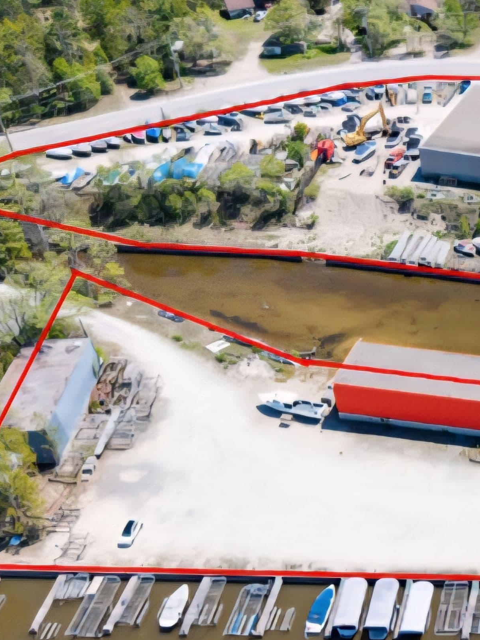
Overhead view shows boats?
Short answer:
Yes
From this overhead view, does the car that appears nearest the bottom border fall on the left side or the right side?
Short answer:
left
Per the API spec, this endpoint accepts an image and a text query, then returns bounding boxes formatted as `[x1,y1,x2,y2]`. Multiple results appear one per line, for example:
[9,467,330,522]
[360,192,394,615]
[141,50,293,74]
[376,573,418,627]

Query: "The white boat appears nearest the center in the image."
[206,340,231,353]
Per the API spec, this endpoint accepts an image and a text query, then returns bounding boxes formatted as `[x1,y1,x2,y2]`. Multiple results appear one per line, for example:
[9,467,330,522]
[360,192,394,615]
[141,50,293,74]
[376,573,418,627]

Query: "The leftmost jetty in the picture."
[29,577,68,634]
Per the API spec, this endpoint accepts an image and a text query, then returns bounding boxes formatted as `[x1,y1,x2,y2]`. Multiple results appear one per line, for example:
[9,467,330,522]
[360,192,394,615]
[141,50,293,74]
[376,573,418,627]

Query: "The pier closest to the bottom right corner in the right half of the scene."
[460,585,479,640]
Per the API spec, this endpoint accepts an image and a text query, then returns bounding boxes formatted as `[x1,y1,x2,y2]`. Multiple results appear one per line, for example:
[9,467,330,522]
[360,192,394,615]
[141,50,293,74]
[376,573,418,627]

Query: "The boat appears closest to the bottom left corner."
[157,585,192,633]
